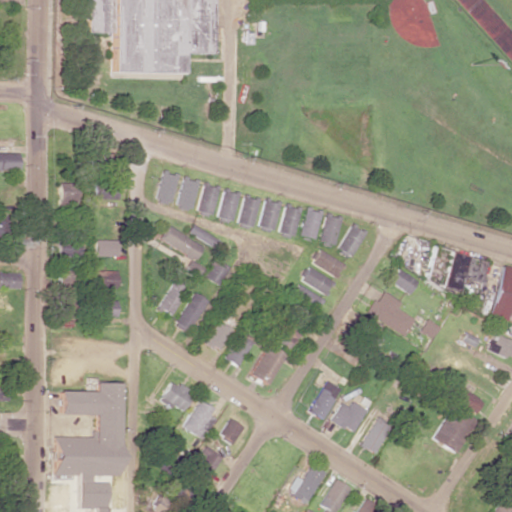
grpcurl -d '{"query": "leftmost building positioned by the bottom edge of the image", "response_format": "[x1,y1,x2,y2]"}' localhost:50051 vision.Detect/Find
[52,382,131,512]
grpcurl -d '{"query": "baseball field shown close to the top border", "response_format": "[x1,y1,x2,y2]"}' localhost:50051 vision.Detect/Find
[389,0,440,48]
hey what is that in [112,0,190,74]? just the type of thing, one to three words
building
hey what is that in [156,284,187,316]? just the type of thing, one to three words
house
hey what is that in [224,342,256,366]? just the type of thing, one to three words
house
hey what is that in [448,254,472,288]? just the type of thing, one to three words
shed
